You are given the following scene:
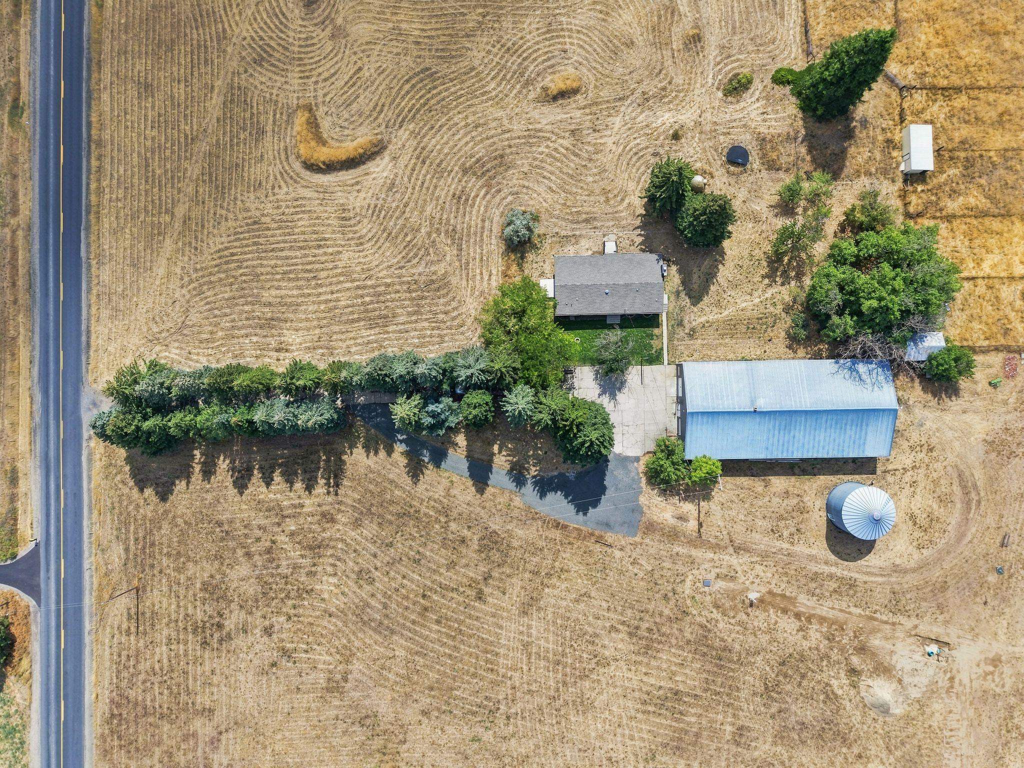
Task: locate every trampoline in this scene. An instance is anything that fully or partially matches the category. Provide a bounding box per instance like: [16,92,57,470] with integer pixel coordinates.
[726,145,751,170]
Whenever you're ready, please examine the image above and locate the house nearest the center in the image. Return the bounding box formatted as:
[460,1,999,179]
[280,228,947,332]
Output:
[541,239,667,324]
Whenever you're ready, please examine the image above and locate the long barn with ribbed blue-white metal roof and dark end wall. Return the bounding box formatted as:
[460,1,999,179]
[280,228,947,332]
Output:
[677,358,900,461]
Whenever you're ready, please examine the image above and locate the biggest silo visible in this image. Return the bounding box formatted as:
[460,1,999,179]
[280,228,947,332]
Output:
[825,480,897,541]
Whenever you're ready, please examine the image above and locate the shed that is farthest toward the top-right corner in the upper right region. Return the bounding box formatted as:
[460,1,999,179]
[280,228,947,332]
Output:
[899,124,933,175]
